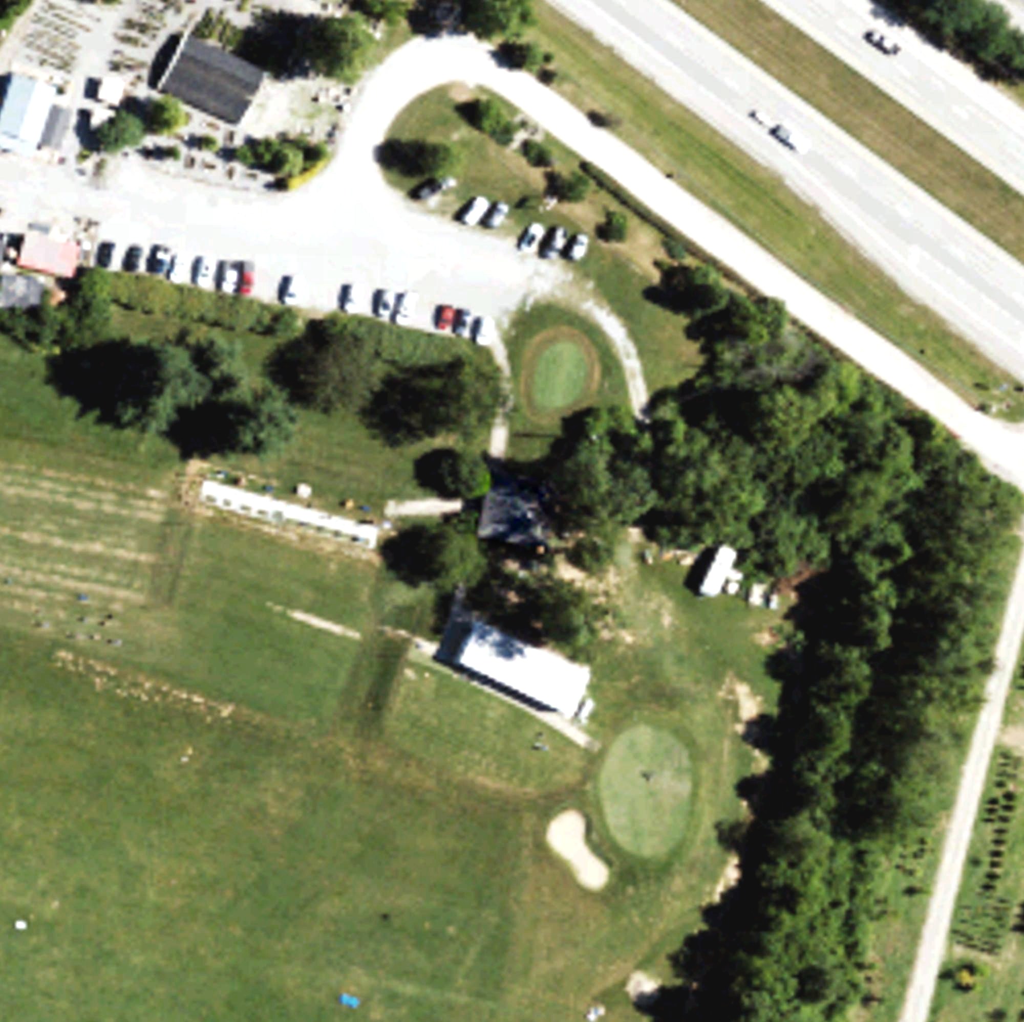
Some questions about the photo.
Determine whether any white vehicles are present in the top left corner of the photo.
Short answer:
Yes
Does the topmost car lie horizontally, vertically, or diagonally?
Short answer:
diagonally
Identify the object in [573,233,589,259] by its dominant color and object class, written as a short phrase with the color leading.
white car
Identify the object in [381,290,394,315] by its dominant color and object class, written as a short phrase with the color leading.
white vehicle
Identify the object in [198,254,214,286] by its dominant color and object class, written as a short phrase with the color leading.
white vehicle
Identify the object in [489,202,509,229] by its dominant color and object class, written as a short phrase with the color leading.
white car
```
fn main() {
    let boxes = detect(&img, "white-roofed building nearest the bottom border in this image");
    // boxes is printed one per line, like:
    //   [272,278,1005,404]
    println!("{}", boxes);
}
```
[460,621,590,715]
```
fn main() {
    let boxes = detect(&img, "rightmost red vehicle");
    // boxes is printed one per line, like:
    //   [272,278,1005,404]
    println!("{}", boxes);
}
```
[440,303,455,330]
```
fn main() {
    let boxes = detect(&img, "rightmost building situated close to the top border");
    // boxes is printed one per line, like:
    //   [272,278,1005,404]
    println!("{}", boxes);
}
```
[157,32,264,124]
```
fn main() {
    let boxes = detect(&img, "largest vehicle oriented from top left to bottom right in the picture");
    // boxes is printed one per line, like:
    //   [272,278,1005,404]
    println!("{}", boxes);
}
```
[773,122,814,157]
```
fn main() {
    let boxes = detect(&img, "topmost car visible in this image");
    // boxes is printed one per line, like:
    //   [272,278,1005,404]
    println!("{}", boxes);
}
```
[868,30,896,54]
